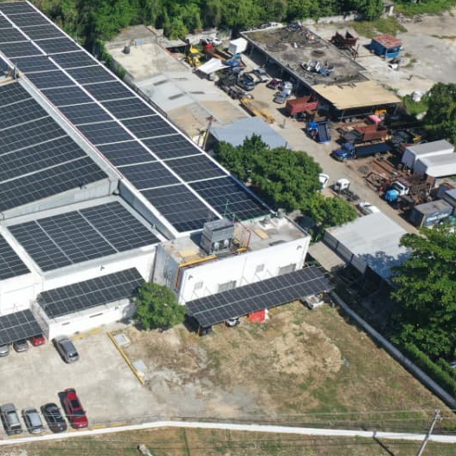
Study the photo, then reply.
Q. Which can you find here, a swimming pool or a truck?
truck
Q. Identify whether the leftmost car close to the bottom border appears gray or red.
gray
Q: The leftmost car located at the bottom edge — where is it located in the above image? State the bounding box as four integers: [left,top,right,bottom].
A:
[0,402,23,435]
